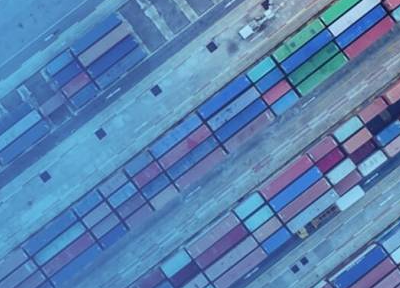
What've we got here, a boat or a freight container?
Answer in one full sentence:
The image shows a freight container.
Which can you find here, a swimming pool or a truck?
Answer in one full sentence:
This aerial view contains a truck.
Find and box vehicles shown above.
[239,0,273,36]
[294,198,351,243]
